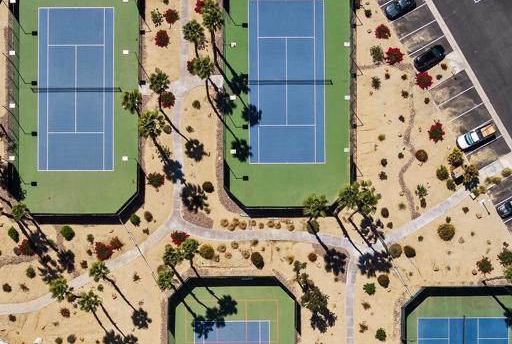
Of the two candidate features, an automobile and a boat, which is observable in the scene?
automobile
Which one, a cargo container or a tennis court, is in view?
tennis court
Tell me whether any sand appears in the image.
Yes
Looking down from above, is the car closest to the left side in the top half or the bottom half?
top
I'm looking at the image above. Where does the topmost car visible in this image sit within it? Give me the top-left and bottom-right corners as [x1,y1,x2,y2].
[383,0,417,20]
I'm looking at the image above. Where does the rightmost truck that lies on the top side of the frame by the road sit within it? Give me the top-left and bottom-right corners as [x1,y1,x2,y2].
[454,121,497,152]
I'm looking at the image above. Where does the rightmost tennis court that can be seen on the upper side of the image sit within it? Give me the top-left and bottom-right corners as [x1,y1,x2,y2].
[226,0,350,206]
